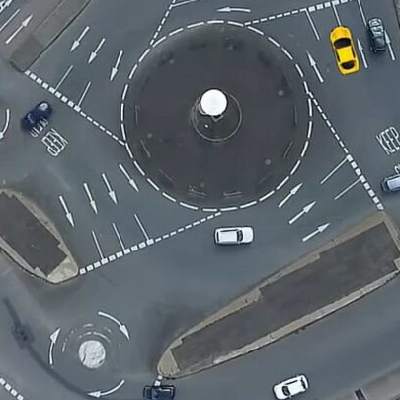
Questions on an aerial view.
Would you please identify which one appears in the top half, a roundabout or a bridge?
roundabout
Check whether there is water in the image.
No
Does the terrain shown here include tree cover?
No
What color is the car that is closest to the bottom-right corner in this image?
white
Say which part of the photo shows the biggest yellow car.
top right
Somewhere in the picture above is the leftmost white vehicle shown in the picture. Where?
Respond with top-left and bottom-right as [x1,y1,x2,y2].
[214,226,254,244]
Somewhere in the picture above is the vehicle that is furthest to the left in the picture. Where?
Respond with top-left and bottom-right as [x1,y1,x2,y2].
[22,101,54,131]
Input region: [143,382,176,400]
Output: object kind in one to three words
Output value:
vehicle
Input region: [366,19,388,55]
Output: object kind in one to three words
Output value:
car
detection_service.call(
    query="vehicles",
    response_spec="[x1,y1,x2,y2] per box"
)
[272,374,309,398]
[330,25,361,77]
[366,19,388,55]
[143,382,176,400]
[22,101,54,131]
[214,226,254,244]
[380,173,400,192]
